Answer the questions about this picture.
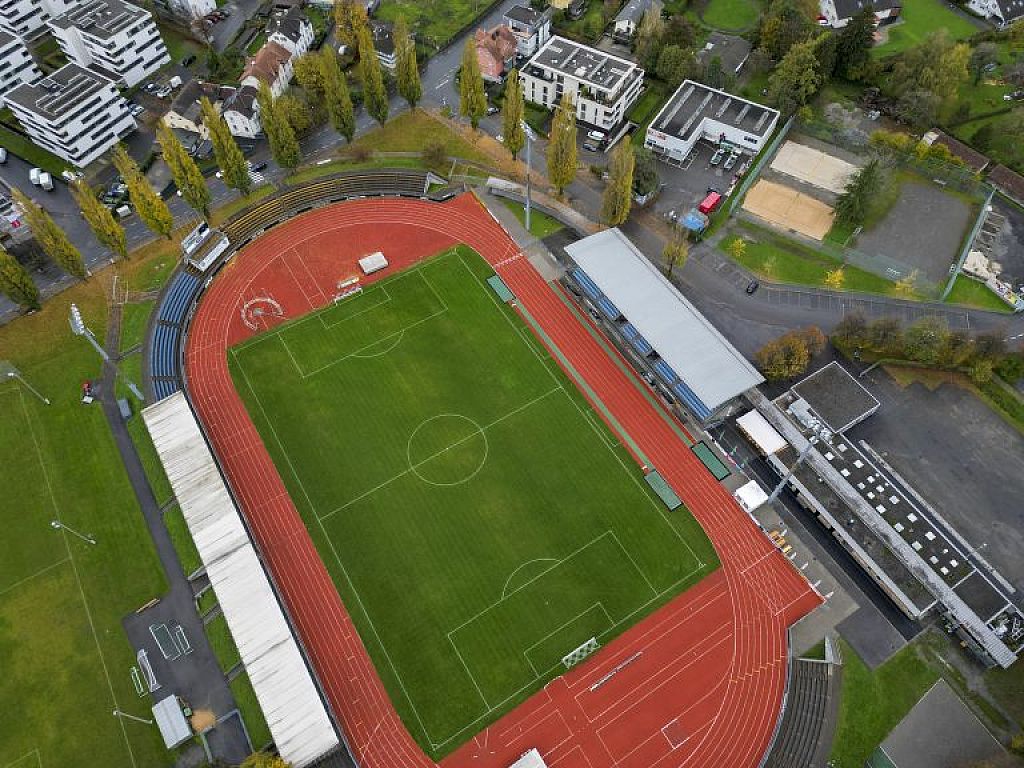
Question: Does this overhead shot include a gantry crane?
No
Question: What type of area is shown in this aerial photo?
sports ground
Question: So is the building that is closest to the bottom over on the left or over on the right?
left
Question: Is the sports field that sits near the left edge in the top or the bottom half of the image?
bottom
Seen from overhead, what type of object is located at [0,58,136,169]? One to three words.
building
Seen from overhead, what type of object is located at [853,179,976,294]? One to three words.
sports court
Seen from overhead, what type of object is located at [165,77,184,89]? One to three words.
vehicle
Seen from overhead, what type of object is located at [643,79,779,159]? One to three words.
building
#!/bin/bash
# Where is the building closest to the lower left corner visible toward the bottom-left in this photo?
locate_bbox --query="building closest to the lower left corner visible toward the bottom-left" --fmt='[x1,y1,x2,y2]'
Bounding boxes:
[152,691,197,749]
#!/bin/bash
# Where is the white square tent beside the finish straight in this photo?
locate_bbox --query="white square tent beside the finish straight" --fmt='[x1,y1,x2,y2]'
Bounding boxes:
[732,482,770,516]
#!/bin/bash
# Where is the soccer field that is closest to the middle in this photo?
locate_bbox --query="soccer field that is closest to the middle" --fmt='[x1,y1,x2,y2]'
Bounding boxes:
[228,243,722,766]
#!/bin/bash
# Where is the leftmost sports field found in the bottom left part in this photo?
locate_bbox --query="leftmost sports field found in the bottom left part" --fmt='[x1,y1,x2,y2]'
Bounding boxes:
[0,350,180,768]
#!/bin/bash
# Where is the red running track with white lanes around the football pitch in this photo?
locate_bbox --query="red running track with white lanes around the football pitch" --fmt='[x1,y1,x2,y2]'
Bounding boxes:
[185,192,822,768]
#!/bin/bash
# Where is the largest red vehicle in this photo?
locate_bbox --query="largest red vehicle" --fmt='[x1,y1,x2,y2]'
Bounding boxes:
[700,195,721,214]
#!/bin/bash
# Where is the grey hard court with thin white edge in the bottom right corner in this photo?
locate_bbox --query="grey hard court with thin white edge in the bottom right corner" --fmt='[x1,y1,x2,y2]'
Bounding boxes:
[867,678,1021,768]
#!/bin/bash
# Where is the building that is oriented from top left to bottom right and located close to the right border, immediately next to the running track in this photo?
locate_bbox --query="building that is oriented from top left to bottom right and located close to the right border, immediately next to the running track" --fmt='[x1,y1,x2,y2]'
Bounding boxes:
[741,360,1024,669]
